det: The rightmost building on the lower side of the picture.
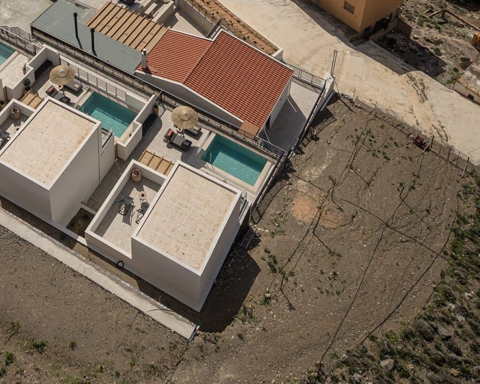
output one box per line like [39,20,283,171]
[80,148,246,314]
